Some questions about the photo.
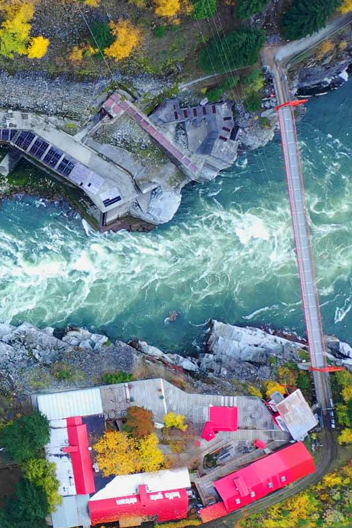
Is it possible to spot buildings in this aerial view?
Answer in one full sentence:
Yes, a building can be made out from above.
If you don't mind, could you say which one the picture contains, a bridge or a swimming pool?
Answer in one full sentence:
This aerial view contains a bridge.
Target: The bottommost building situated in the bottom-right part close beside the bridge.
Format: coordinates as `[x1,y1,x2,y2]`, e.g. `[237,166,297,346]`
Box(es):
[199,440,316,525]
